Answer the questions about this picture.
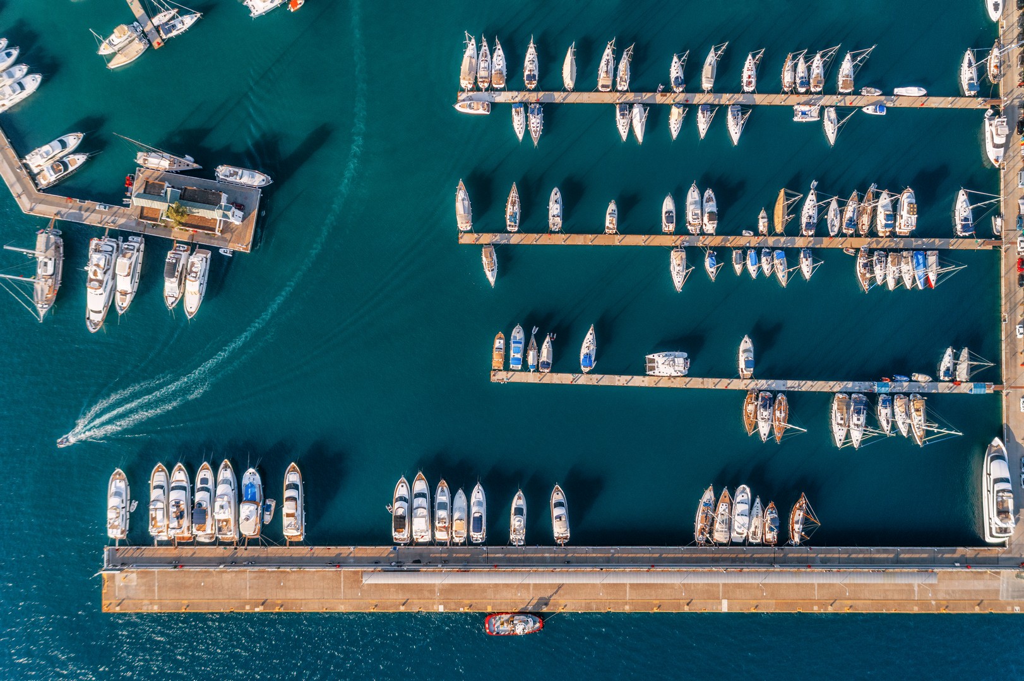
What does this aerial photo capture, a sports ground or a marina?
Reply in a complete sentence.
The area seen from above is a marina.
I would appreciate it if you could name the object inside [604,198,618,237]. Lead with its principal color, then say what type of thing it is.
white boat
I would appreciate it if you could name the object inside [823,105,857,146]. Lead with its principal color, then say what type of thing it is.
white boat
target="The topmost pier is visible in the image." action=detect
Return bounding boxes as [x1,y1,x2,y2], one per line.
[129,0,166,51]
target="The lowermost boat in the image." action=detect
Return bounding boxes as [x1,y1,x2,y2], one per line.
[469,609,561,643]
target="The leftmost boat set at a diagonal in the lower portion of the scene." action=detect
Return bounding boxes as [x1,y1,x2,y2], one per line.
[57,433,73,445]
